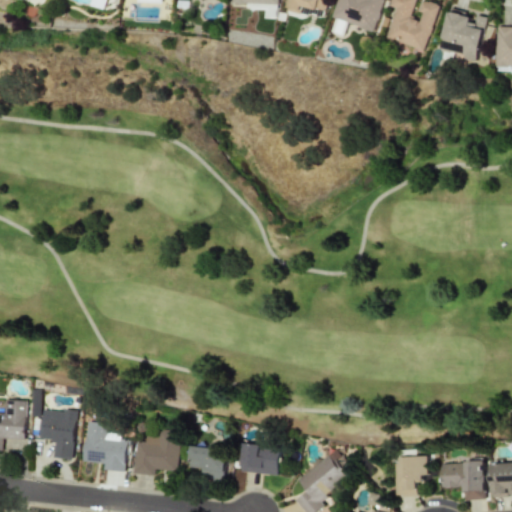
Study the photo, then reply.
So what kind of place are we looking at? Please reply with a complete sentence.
The area seen from above is a golf course.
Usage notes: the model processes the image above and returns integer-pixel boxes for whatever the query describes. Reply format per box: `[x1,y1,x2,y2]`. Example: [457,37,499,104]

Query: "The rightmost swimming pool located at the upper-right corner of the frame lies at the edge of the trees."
[431,48,443,72]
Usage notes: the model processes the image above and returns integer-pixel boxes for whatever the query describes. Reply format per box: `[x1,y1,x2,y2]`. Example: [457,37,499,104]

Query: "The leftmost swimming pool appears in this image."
[11,382,30,396]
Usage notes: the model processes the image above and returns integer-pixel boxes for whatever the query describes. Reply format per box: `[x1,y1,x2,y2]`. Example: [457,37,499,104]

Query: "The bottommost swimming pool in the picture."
[358,490,370,508]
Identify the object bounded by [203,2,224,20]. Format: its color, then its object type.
blue swimming pool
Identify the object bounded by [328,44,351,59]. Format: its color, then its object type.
blue swimming pool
